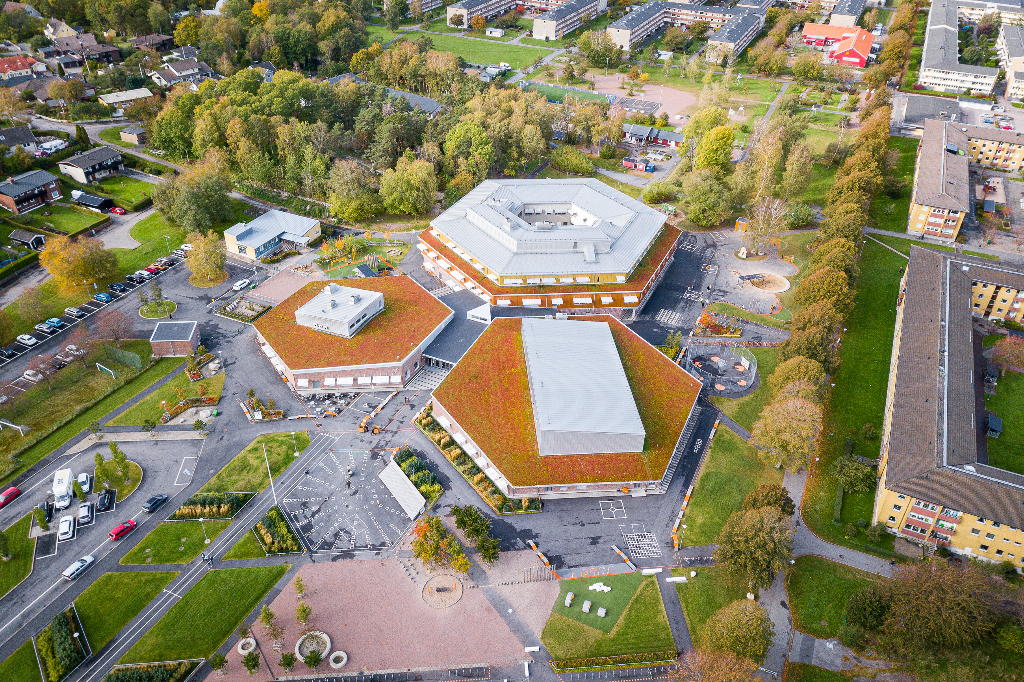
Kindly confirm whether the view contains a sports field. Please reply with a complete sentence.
Yes, a sports field can be made out from above.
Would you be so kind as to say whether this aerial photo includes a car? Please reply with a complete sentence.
Yes, you can see a car in this photo.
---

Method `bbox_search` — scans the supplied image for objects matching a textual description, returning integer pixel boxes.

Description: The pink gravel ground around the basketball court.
[558,69,697,126]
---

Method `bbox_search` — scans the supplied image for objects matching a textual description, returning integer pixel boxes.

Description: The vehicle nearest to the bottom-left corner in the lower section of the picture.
[59,556,95,582]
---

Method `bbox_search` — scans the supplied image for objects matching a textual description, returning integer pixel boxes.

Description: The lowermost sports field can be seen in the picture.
[552,571,643,633]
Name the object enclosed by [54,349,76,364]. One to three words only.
car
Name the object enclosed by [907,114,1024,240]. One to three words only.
building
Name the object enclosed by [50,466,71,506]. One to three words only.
truck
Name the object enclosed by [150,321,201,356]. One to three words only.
shed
